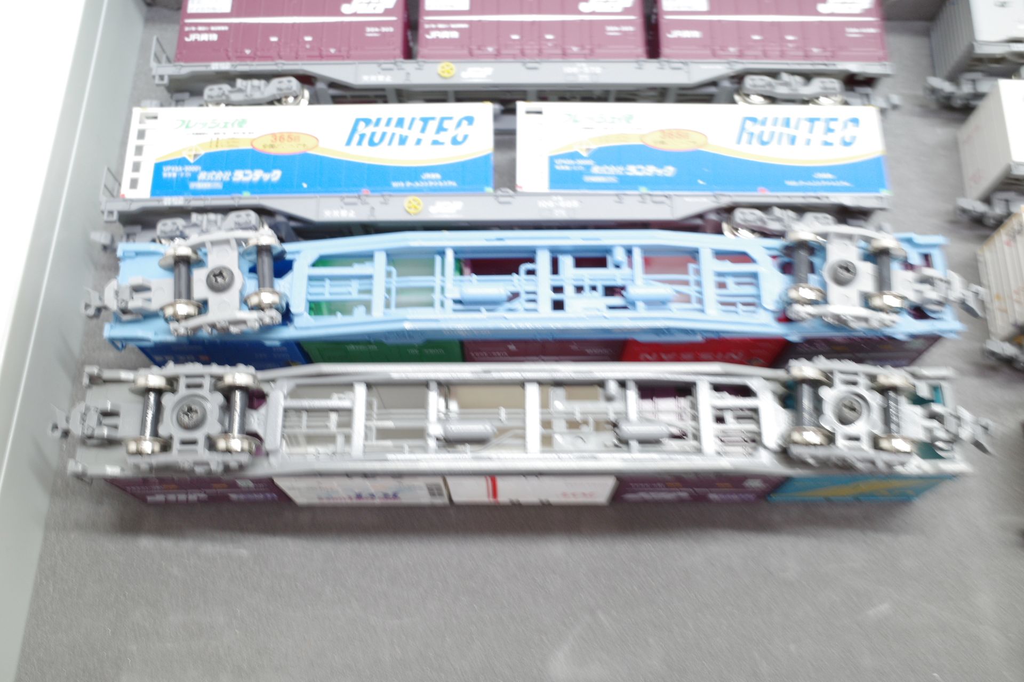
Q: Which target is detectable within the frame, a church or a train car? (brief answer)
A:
train car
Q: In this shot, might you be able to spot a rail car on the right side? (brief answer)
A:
Yes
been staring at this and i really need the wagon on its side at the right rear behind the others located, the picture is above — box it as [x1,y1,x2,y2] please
[926,37,1024,111]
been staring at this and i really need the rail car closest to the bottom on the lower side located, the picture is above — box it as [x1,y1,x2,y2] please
[42,356,997,492]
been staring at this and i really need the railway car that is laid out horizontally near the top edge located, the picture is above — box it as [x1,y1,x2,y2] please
[145,34,905,137]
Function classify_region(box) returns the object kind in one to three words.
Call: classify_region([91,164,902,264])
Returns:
rail car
